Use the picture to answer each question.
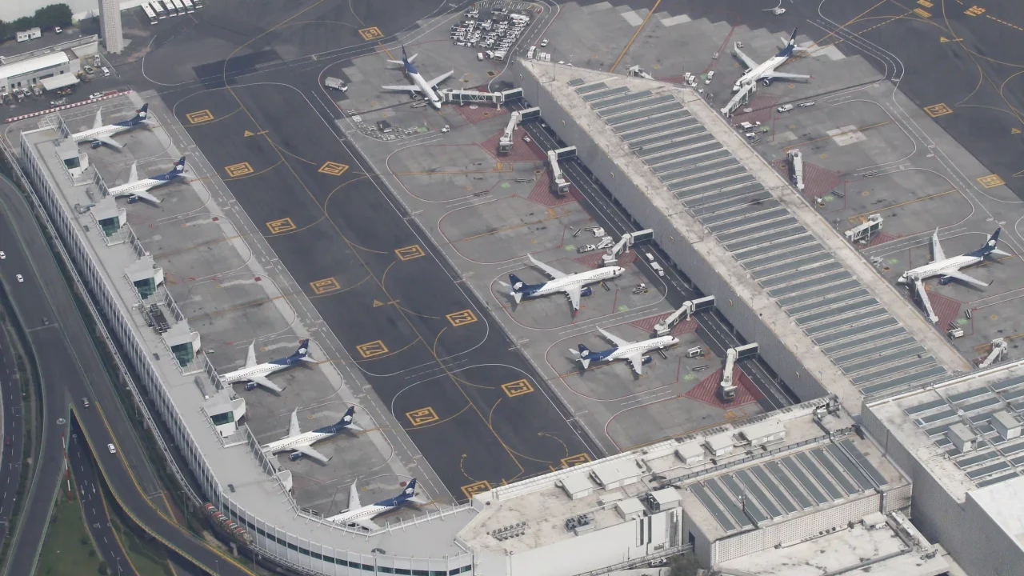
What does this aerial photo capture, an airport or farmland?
airport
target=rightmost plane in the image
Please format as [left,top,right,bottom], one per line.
[898,226,1013,285]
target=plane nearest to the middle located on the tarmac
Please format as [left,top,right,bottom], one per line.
[499,251,625,309]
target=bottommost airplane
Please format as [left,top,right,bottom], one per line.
[323,477,428,531]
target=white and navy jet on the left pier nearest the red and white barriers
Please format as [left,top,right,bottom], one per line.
[66,104,157,149]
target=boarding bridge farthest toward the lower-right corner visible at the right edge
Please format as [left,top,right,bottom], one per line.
[974,338,1005,371]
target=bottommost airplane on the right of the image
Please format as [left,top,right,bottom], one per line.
[569,325,679,374]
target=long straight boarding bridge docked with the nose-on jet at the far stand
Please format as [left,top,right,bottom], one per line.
[438,88,524,117]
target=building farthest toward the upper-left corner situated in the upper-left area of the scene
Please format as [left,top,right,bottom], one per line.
[14,25,41,42]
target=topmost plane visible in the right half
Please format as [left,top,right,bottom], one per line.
[732,28,813,91]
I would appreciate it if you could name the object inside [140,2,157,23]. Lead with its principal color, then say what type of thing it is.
white vehicle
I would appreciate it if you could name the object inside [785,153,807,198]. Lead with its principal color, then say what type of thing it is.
white jet bridge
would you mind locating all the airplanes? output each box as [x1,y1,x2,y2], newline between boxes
[569,325,679,374]
[66,104,157,149]
[323,477,428,531]
[102,157,194,204]
[379,47,453,109]
[898,226,1013,285]
[260,404,365,461]
[217,336,319,390]
[732,28,813,91]
[499,251,625,309]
